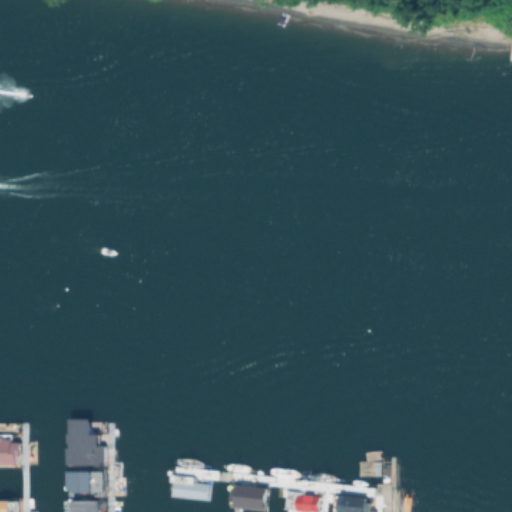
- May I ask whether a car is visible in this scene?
No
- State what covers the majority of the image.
water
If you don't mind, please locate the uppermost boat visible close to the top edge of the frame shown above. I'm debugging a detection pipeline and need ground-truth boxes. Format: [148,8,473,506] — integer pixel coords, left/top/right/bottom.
[277,12,290,28]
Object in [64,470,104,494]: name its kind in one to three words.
house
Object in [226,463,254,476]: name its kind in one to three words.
boat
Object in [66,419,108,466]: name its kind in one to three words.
house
